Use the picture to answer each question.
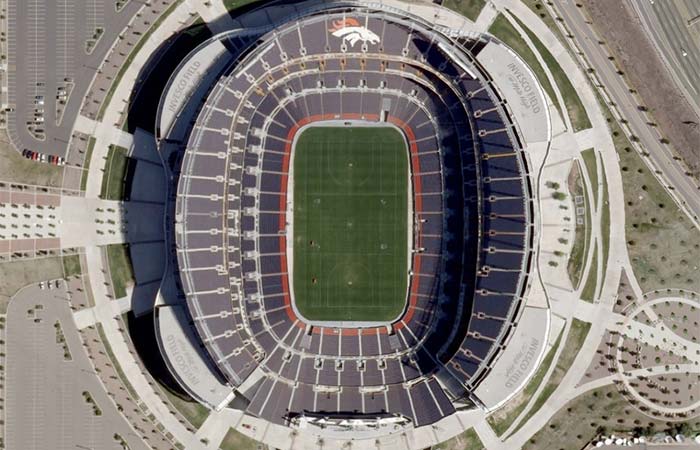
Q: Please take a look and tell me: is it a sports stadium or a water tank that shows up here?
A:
sports stadium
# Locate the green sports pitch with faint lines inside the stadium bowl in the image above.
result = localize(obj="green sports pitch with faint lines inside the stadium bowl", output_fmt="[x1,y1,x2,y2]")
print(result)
[287,120,414,328]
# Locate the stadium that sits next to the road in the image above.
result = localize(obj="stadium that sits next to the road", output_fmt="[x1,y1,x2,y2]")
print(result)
[154,1,550,432]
